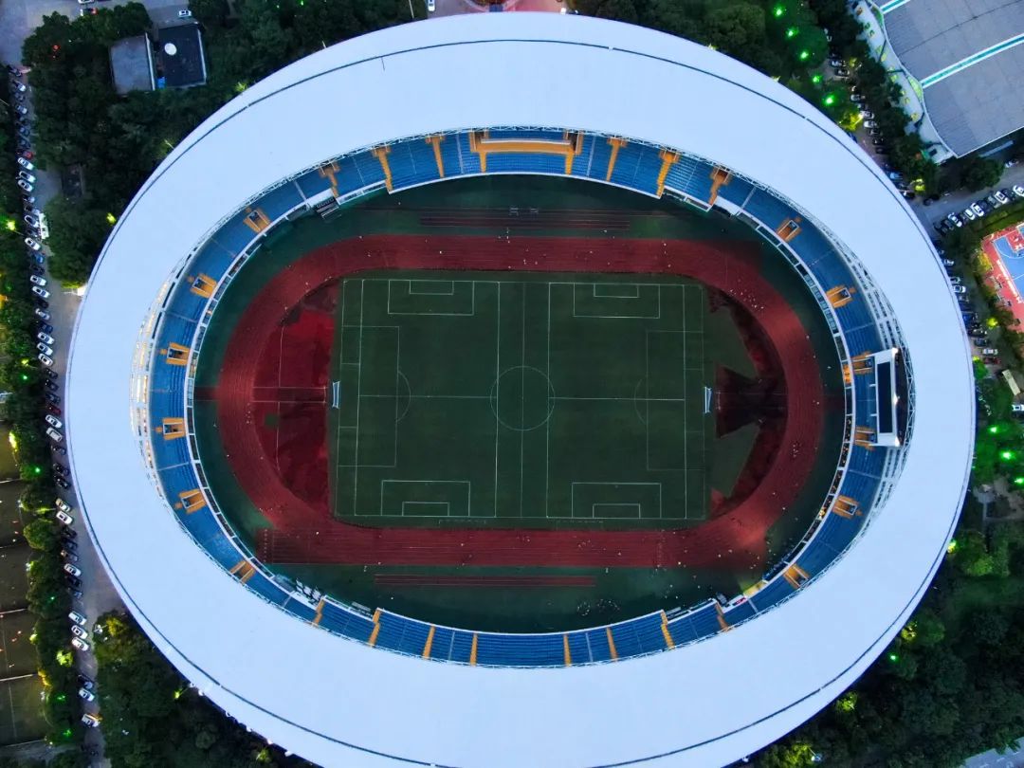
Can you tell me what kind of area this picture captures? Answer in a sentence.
What you see here is a sports ground.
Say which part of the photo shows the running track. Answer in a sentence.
You can find the running track in the center area of the picture.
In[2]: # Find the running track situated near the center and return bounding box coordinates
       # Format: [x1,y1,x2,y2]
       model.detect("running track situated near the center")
[194,175,846,635]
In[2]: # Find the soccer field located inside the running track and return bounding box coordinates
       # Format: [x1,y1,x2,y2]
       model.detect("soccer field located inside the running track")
[329,270,712,530]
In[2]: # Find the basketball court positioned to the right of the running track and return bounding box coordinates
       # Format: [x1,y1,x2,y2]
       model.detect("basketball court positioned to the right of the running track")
[982,223,1024,332]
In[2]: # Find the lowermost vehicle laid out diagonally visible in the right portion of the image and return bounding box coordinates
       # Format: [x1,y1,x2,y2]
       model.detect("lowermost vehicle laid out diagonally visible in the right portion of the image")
[714,589,729,606]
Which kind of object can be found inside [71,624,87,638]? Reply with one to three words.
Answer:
car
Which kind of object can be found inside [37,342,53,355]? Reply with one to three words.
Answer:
vehicle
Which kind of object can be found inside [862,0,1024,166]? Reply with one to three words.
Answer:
building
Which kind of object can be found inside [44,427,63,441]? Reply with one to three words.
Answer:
vehicle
